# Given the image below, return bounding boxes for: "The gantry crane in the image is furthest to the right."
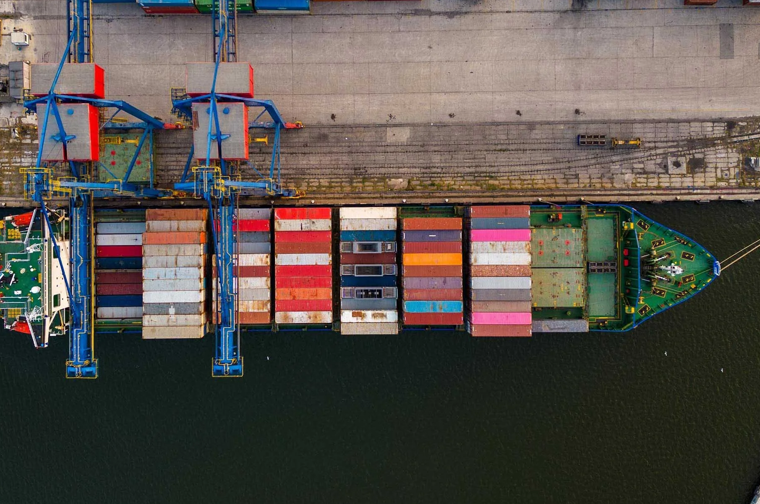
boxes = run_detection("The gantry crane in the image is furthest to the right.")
[170,0,316,379]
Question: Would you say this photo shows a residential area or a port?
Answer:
port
